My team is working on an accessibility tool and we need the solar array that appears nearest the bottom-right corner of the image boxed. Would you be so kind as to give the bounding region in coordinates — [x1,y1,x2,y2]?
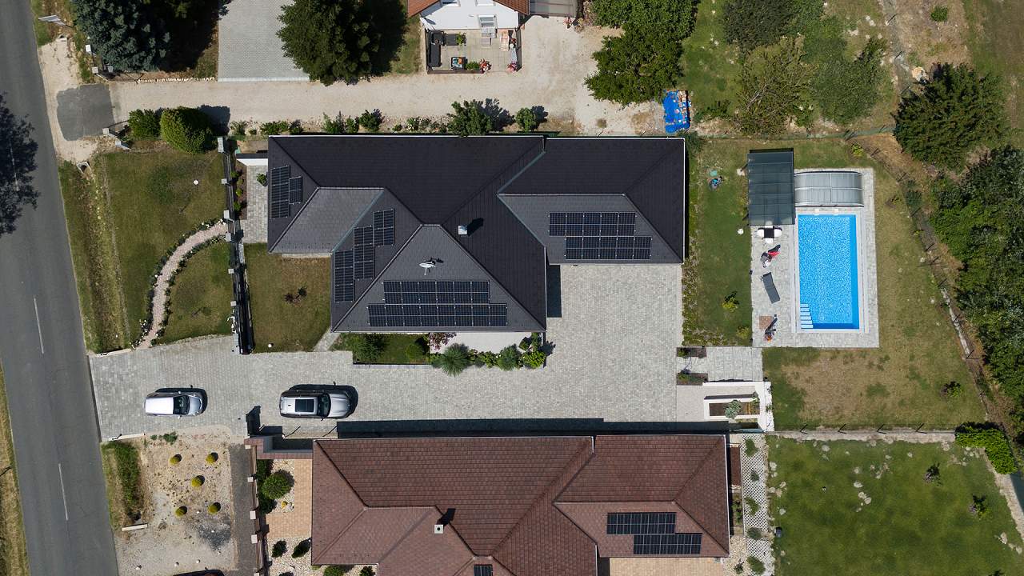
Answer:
[605,514,704,555]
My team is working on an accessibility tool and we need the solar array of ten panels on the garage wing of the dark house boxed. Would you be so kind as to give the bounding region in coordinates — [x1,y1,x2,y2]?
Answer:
[548,213,653,260]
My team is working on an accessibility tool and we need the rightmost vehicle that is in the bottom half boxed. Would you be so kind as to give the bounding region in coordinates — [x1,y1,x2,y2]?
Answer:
[279,388,350,423]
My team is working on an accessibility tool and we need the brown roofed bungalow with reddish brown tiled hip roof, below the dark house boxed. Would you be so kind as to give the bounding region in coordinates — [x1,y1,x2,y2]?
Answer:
[310,433,731,576]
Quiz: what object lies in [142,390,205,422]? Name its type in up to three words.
car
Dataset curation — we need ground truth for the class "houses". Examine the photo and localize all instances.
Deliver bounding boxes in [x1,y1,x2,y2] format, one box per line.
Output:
[266,135,687,333]
[310,433,731,576]
[406,0,530,31]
